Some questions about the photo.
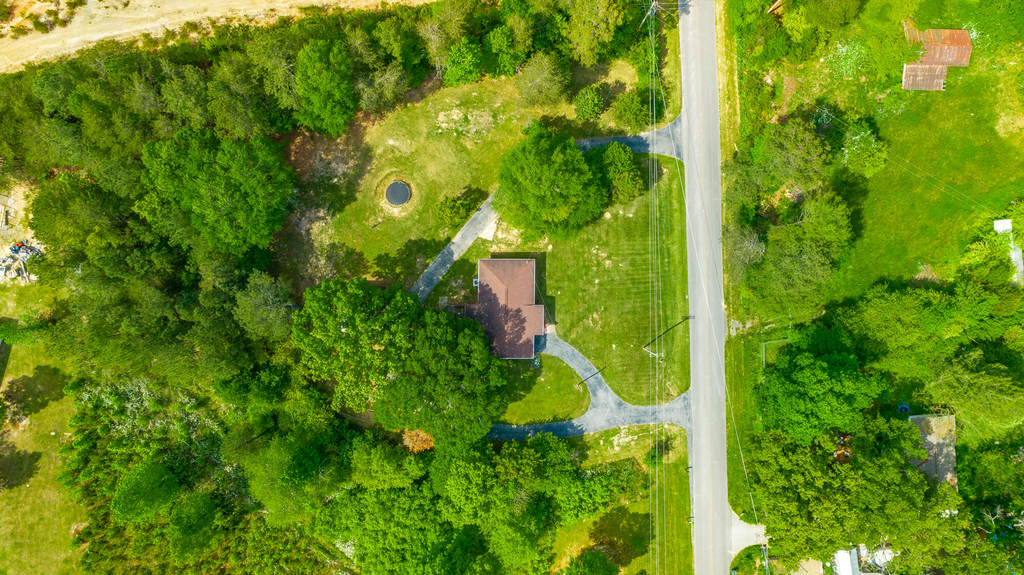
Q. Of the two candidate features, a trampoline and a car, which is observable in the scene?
trampoline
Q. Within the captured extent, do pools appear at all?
No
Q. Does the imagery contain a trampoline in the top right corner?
No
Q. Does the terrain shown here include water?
No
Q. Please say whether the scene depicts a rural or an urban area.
rural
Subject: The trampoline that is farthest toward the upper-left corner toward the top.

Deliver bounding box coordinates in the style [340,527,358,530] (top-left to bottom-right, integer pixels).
[386,181,411,206]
